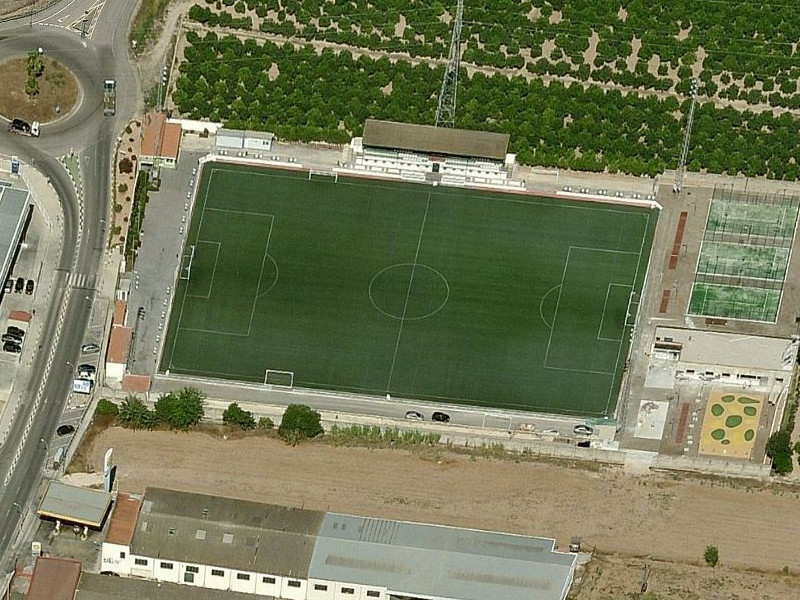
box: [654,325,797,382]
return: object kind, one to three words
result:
building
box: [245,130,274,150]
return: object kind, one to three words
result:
building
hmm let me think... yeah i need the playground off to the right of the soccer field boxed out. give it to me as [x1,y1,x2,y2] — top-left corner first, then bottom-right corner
[698,391,764,459]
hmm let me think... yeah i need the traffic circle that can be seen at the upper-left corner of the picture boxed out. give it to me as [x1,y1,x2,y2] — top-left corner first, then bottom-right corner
[0,54,82,124]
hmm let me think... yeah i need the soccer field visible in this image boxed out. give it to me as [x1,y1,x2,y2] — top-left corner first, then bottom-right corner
[160,162,660,420]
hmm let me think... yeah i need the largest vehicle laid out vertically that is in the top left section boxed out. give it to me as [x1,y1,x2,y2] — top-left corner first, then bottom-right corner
[104,81,117,114]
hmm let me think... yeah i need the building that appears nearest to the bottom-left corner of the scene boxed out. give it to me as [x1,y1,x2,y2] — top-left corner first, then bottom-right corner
[23,556,83,600]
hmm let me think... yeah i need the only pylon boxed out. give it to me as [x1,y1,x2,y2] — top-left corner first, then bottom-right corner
[435,0,472,129]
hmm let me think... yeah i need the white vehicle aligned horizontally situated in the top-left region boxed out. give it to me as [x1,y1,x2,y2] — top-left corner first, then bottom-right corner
[10,123,39,137]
